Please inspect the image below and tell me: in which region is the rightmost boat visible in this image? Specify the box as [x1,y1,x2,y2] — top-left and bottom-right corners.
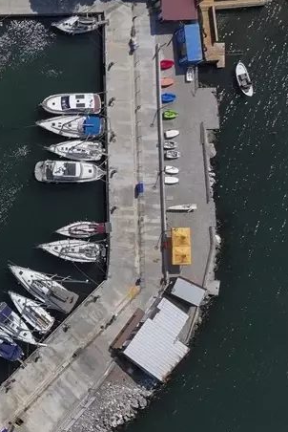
[236,62,255,98]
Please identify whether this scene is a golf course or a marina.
marina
